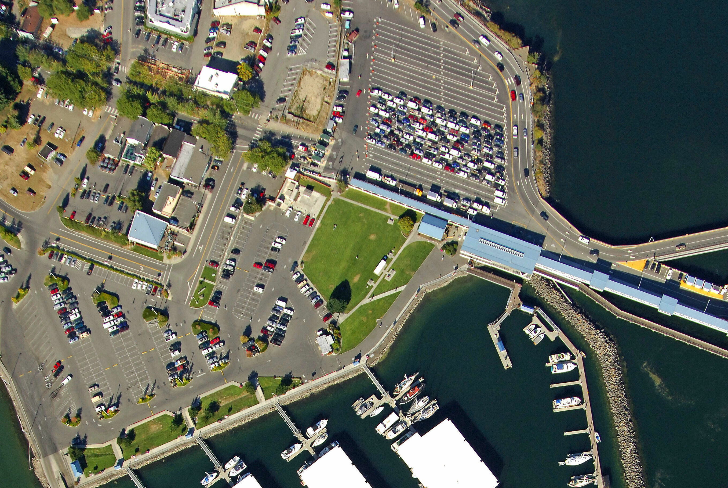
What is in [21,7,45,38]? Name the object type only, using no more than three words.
house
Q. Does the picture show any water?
Yes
